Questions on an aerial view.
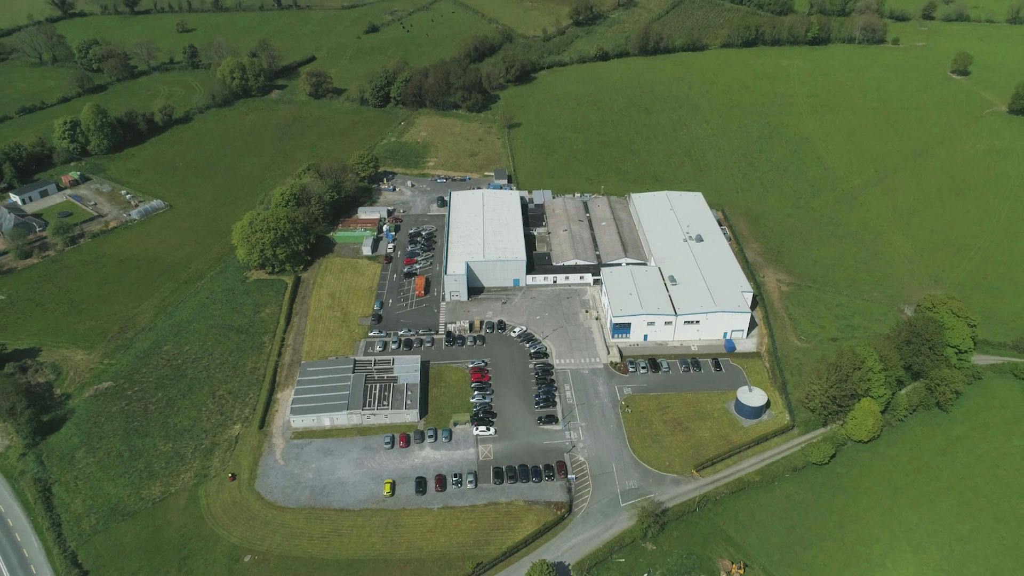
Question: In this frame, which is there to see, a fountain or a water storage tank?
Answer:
water storage tank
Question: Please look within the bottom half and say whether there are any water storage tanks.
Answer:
Yes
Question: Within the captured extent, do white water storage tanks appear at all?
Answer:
Yes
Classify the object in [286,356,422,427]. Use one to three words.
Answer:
building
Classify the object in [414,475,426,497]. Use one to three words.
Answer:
vehicle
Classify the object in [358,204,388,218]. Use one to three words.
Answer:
shed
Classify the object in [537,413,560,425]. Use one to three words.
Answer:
vehicle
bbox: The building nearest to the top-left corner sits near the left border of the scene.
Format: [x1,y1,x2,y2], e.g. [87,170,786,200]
[5,178,59,205]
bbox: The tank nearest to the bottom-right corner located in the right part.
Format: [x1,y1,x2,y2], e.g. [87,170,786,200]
[732,377,770,423]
